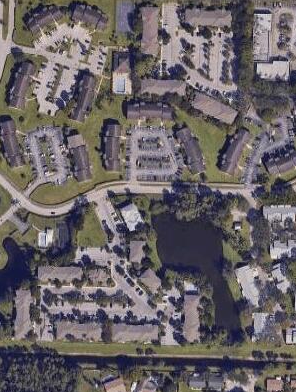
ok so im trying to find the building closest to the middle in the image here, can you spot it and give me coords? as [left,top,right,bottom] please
[122,205,143,231]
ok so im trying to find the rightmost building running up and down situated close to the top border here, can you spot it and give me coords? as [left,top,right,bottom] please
[253,14,272,61]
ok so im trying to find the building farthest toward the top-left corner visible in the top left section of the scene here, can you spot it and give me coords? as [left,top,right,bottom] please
[22,3,67,38]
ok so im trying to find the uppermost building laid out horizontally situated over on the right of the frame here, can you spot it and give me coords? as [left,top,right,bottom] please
[187,9,232,26]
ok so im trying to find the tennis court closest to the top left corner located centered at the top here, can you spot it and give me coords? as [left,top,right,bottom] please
[115,0,134,32]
